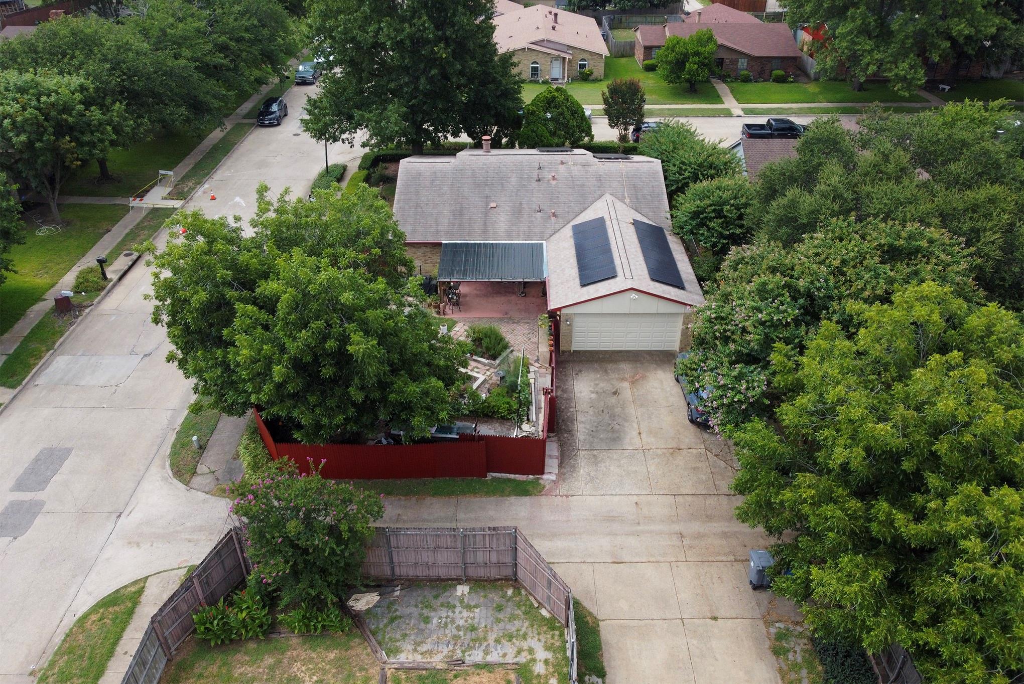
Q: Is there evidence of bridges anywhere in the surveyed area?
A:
No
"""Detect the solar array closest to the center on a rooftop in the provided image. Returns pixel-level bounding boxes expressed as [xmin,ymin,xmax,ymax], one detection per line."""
[570,214,617,286]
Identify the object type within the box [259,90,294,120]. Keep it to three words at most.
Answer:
car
